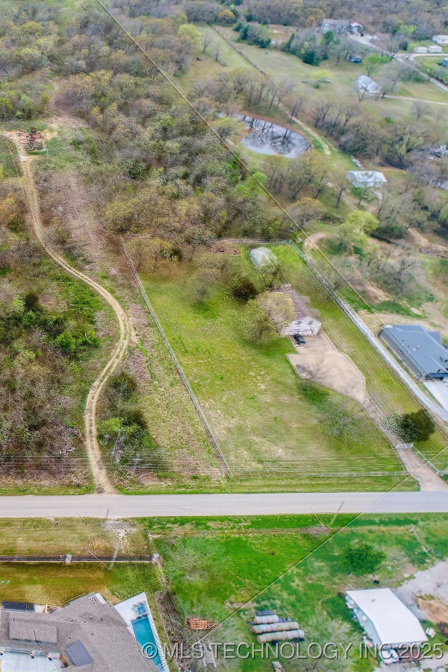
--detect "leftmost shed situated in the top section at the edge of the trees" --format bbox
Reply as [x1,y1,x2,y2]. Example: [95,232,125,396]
[250,244,278,267]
